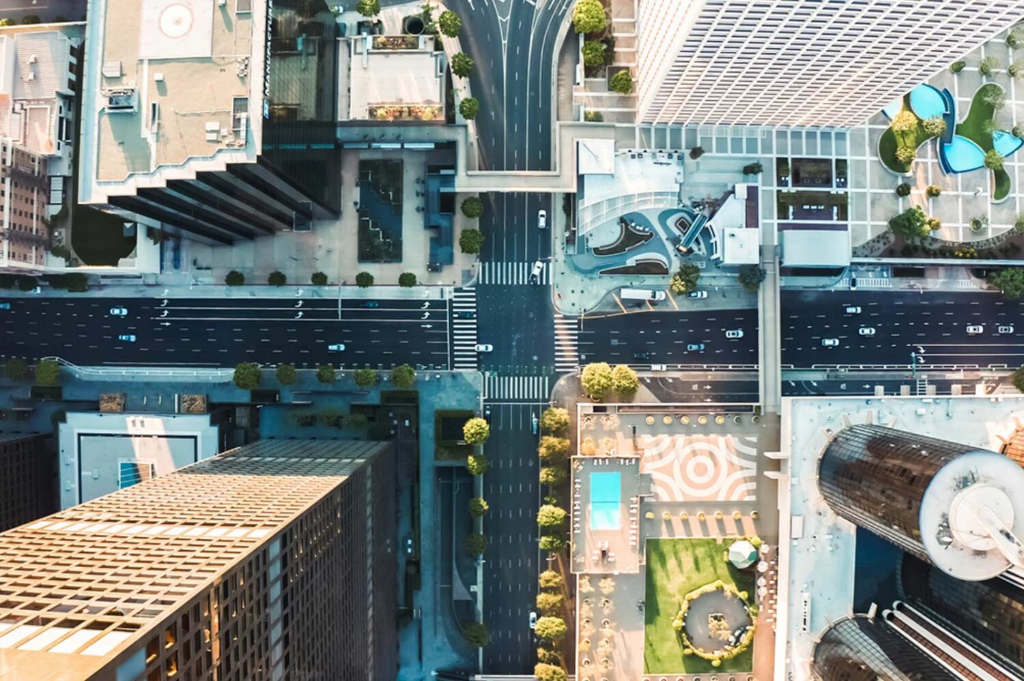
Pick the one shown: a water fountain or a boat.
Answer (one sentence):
There is a water fountain in the scene.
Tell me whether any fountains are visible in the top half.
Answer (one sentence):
Yes, in the top half there is a fountain.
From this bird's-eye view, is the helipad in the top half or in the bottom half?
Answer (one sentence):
The top half of the photo is where the helipad is.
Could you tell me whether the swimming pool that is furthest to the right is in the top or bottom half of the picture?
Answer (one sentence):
Seen from above, the swimming pool that is furthest to the right lies in the top half of the view.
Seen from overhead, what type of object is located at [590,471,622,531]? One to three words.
swimming pool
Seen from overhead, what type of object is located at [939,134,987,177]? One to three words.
swimming pool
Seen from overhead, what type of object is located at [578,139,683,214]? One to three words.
building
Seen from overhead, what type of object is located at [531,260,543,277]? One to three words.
vehicle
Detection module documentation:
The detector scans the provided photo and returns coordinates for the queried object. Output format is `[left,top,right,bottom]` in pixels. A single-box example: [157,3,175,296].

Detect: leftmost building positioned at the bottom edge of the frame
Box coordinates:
[0,440,394,681]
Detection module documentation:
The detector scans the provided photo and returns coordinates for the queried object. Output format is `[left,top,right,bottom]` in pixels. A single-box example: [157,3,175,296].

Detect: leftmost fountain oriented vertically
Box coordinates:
[425,162,456,264]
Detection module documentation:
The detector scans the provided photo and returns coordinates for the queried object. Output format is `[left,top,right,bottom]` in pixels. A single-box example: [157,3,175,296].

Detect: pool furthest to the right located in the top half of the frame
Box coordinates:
[992,129,1024,160]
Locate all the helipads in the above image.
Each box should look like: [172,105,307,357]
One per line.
[140,0,214,58]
